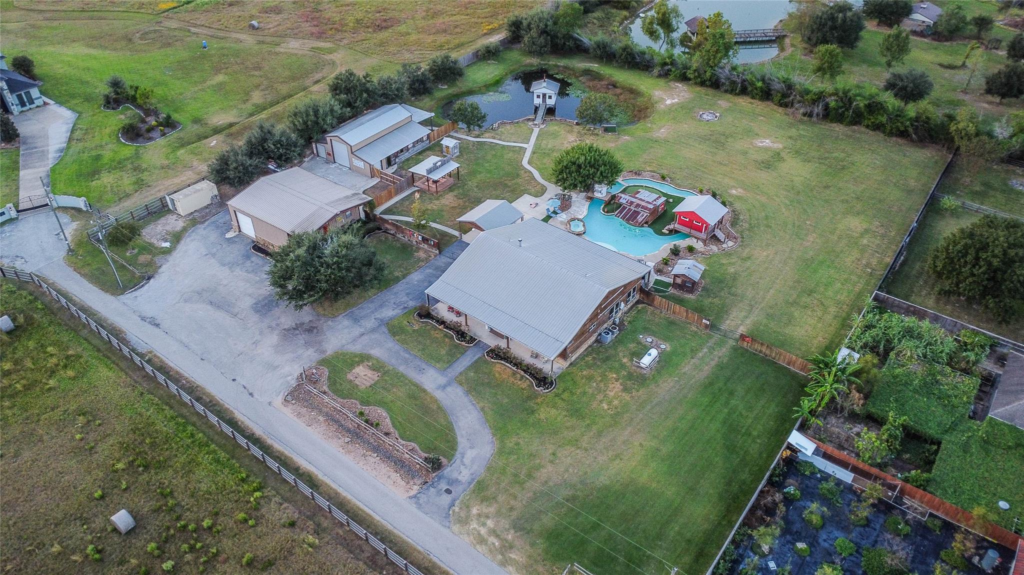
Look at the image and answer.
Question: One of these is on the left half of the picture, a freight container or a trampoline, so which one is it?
freight container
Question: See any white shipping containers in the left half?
Yes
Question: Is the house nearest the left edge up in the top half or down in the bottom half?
top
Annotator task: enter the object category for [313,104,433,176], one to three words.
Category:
barn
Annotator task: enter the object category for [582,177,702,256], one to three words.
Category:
swimming pool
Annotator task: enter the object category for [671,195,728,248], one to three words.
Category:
building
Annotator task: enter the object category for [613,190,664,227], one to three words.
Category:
shed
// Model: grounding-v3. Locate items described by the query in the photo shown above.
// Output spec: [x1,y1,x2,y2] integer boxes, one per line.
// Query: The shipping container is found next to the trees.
[163,179,219,216]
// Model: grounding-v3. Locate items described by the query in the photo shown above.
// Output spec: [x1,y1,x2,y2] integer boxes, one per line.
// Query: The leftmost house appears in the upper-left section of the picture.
[0,76,43,117]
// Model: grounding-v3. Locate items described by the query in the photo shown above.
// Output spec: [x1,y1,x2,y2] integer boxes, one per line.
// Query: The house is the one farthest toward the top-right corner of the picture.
[883,2,941,40]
